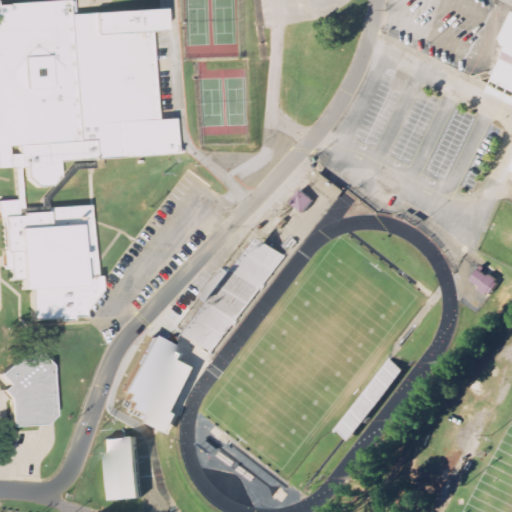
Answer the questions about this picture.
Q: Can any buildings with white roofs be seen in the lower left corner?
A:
Yes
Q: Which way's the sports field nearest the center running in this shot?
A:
at an angle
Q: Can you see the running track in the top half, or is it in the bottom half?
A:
bottom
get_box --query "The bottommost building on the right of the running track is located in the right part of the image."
[468,264,497,295]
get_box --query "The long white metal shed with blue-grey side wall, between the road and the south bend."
[104,436,141,500]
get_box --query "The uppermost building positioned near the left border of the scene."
[0,0,186,188]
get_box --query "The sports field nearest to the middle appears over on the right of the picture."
[206,236,418,470]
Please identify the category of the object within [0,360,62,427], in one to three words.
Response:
building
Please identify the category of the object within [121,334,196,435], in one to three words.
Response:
building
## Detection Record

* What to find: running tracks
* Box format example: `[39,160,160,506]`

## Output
[180,191,456,512]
